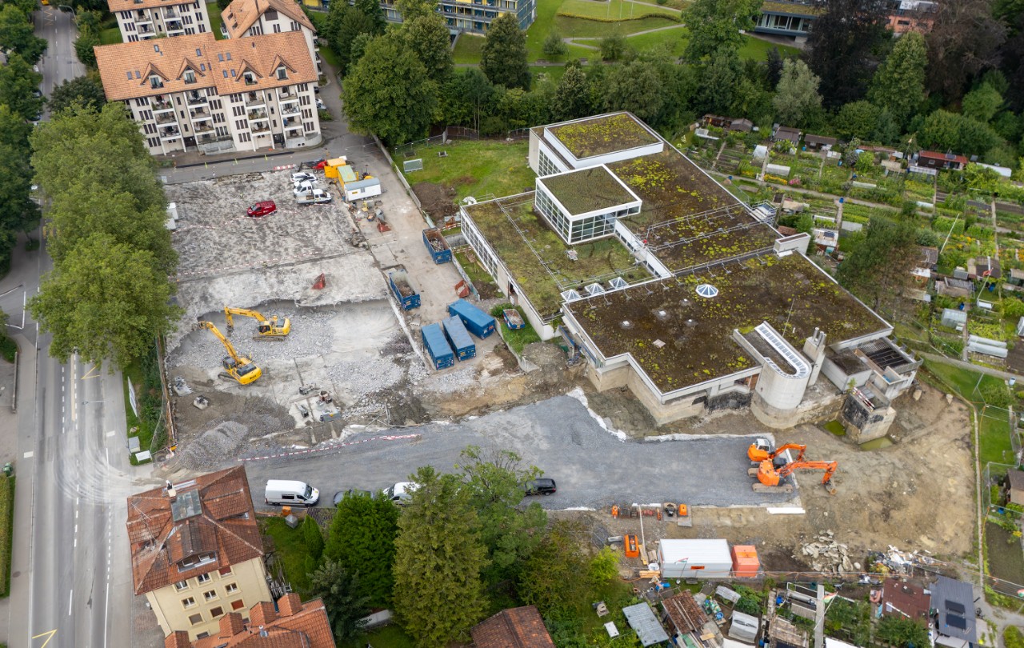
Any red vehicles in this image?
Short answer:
Yes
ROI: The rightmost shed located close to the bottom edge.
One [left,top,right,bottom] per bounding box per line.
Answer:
[916,575,992,648]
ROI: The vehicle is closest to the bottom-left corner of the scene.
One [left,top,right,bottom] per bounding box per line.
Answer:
[262,485,319,512]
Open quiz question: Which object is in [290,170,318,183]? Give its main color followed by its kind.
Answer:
white vehicle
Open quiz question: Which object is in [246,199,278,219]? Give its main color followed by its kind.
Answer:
red vehicle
